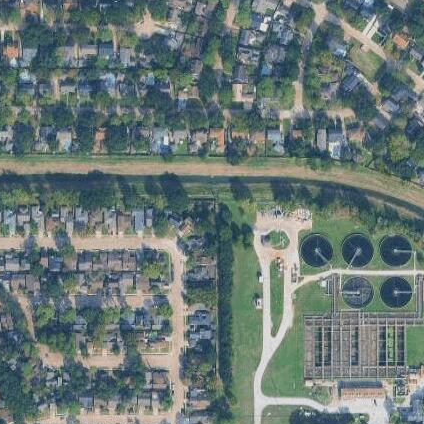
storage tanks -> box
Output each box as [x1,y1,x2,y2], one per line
[341,276,374,308]
[342,233,374,266]
[380,233,413,266]
[380,276,413,308]
[301,233,333,266]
